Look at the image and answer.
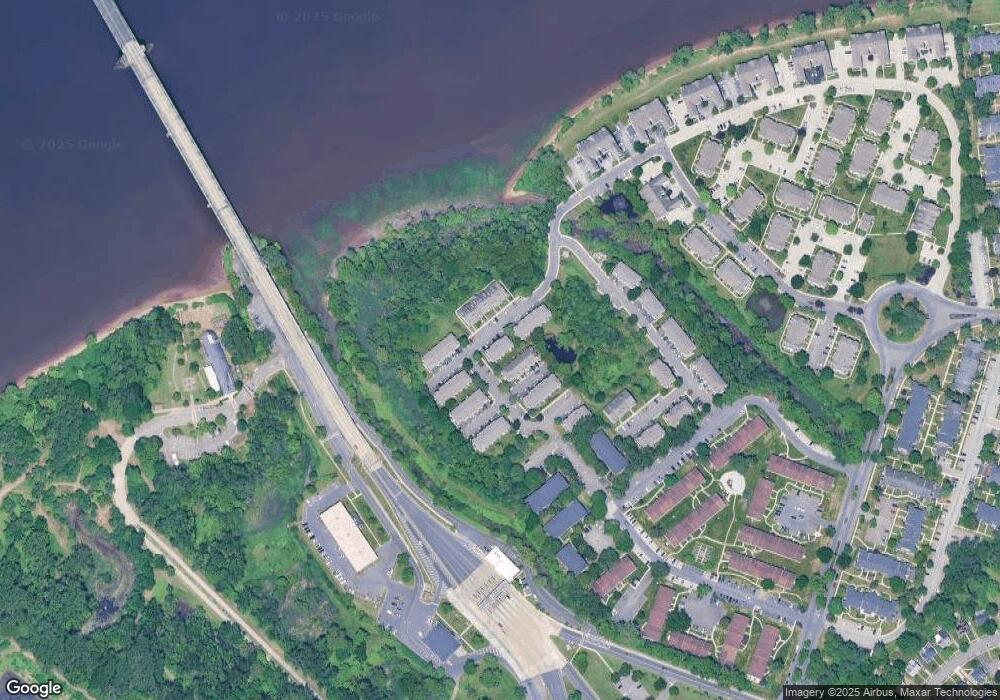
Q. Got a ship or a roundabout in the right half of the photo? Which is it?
roundabout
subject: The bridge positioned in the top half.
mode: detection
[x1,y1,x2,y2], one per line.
[93,0,381,471]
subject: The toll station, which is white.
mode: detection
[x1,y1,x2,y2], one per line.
[447,558,566,681]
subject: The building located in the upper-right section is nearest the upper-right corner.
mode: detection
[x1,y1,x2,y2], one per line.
[906,22,944,62]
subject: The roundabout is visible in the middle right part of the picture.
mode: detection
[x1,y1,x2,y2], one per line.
[865,282,938,355]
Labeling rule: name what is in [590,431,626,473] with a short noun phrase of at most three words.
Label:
building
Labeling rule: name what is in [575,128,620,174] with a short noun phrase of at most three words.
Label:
building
